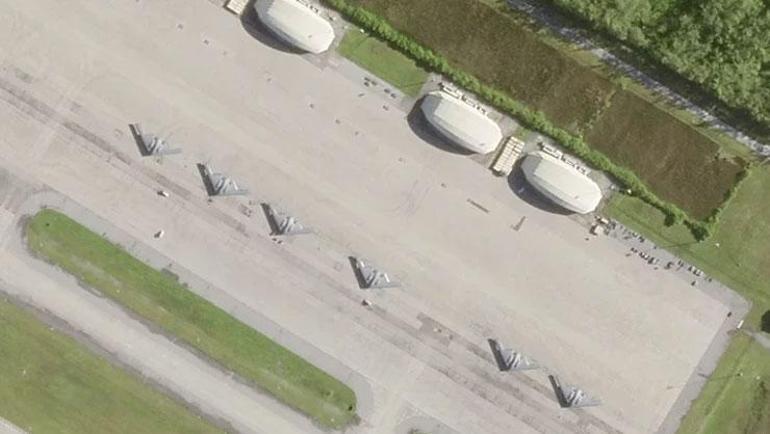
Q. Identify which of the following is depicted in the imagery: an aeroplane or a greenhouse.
aeroplane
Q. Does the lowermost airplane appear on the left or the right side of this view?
right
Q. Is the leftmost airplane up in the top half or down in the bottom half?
top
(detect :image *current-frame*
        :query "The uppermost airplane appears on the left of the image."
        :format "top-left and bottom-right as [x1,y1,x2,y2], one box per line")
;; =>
[134,126,182,155]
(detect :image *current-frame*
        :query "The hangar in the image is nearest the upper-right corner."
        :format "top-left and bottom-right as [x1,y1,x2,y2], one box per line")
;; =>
[522,153,601,211]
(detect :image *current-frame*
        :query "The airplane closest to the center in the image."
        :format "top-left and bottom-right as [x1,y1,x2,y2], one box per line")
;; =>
[351,259,400,289]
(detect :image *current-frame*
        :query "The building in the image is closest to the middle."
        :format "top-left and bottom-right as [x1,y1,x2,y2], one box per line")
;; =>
[422,93,501,151]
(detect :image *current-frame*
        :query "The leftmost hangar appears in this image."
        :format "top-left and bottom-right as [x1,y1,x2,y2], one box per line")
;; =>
[253,0,332,50]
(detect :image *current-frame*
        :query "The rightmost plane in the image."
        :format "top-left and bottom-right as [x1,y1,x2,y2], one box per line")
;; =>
[553,378,601,408]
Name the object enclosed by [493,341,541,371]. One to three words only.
airplane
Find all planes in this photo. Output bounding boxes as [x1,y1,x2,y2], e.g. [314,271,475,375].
[134,126,182,155]
[553,378,601,408]
[264,205,312,235]
[201,166,249,196]
[351,259,400,289]
[493,341,541,371]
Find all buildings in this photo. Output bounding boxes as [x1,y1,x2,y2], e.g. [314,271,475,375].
[522,153,601,211]
[253,0,332,50]
[422,93,501,151]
